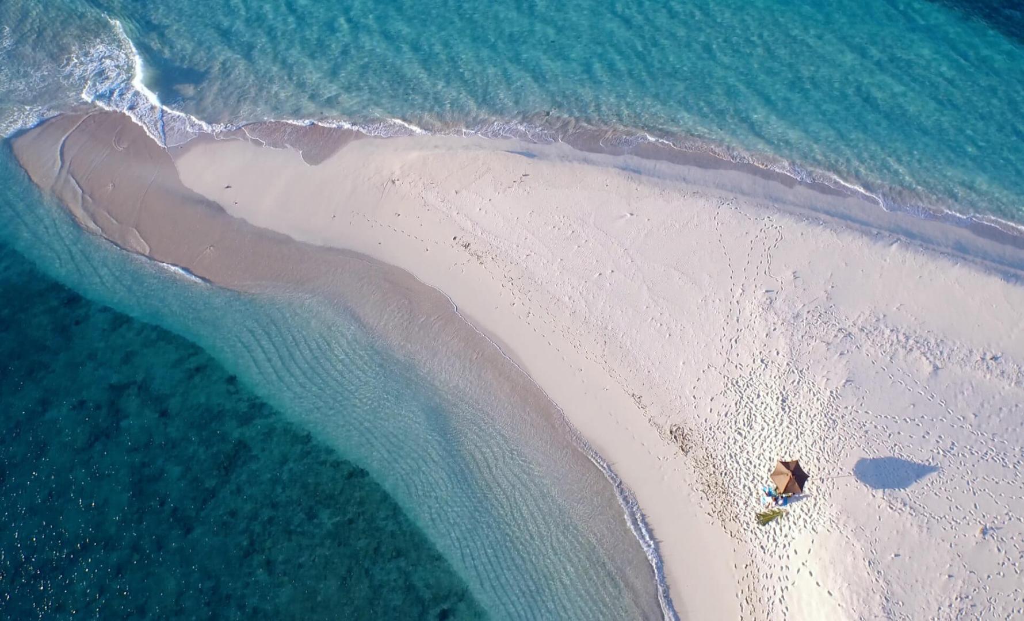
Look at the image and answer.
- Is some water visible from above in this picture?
Yes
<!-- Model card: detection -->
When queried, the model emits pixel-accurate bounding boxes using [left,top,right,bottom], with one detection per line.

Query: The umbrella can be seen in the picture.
[771,460,810,495]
